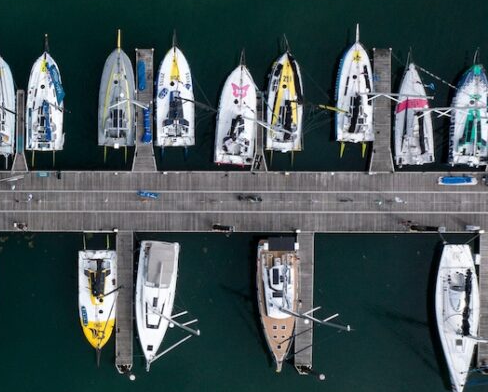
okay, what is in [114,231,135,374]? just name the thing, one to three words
pier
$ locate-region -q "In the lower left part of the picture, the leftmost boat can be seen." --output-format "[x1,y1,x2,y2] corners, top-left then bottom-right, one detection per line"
[76,233,124,367]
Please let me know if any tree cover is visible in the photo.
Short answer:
No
